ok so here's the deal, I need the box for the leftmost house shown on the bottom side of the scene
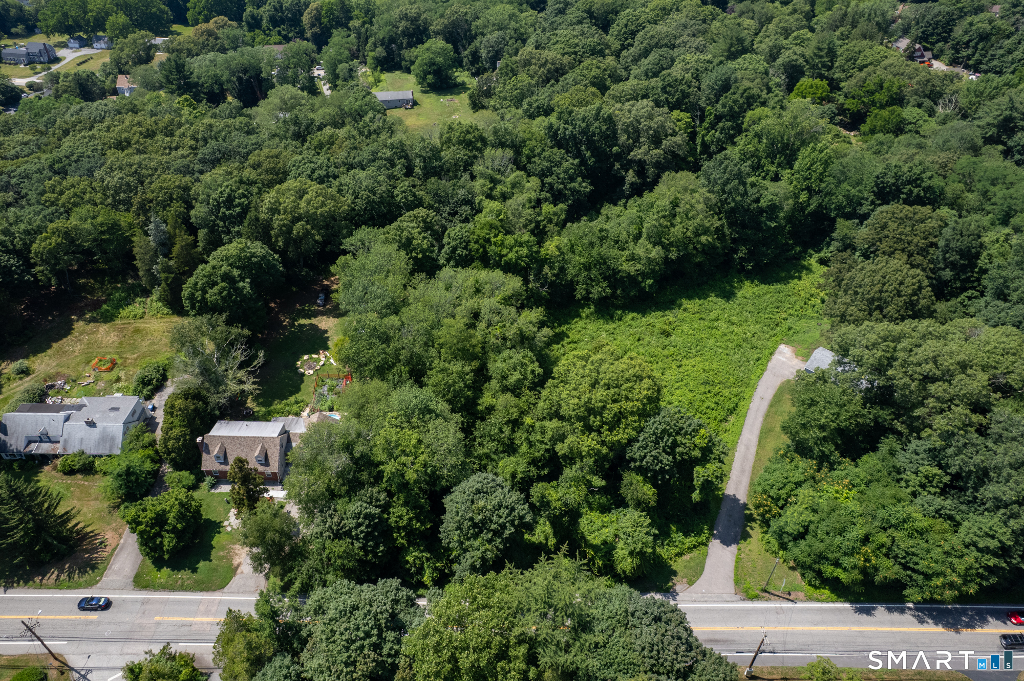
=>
[0,394,156,467]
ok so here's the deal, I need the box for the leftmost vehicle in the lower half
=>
[76,597,111,613]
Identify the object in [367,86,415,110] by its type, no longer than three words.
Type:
house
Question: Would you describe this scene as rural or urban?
rural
